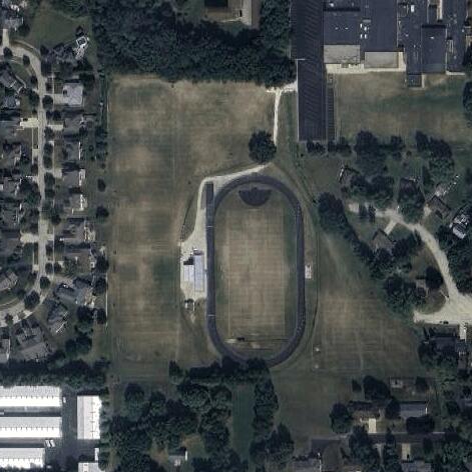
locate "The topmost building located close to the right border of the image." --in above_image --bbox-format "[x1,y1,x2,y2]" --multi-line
[324,0,467,86]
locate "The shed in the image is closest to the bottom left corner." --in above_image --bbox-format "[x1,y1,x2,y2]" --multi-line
[0,448,45,468]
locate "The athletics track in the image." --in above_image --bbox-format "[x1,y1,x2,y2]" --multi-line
[206,174,305,365]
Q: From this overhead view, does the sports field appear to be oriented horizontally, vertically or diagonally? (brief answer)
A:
vertically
